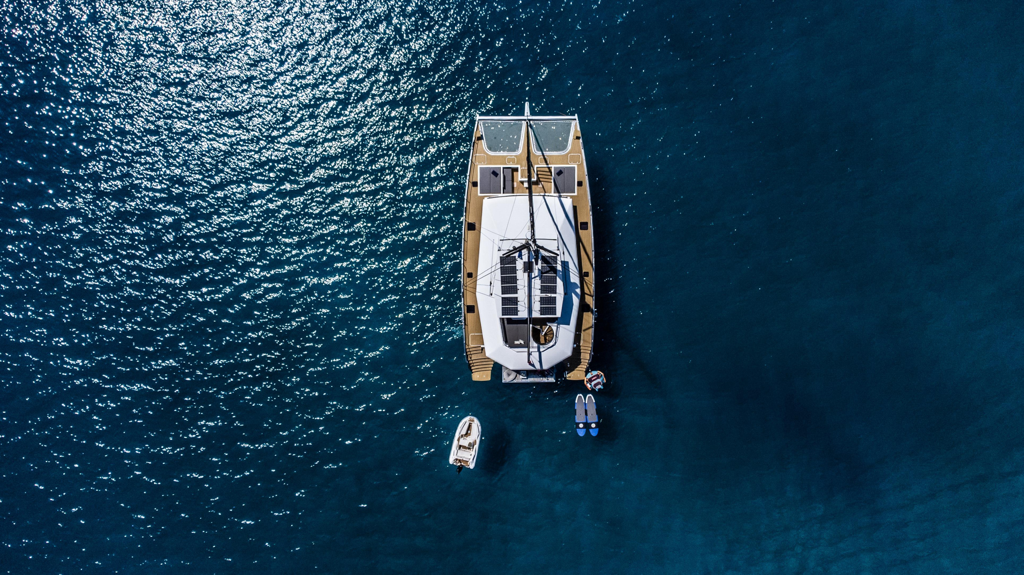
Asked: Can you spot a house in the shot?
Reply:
No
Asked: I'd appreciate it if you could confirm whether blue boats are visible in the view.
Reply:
No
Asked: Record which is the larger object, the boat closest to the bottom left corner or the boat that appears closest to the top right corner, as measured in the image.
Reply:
the boat that appears closest to the top right corner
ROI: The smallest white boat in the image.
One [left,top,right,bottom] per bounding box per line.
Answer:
[449,415,480,476]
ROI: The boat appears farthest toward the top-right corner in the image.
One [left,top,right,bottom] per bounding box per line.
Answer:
[461,102,595,383]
